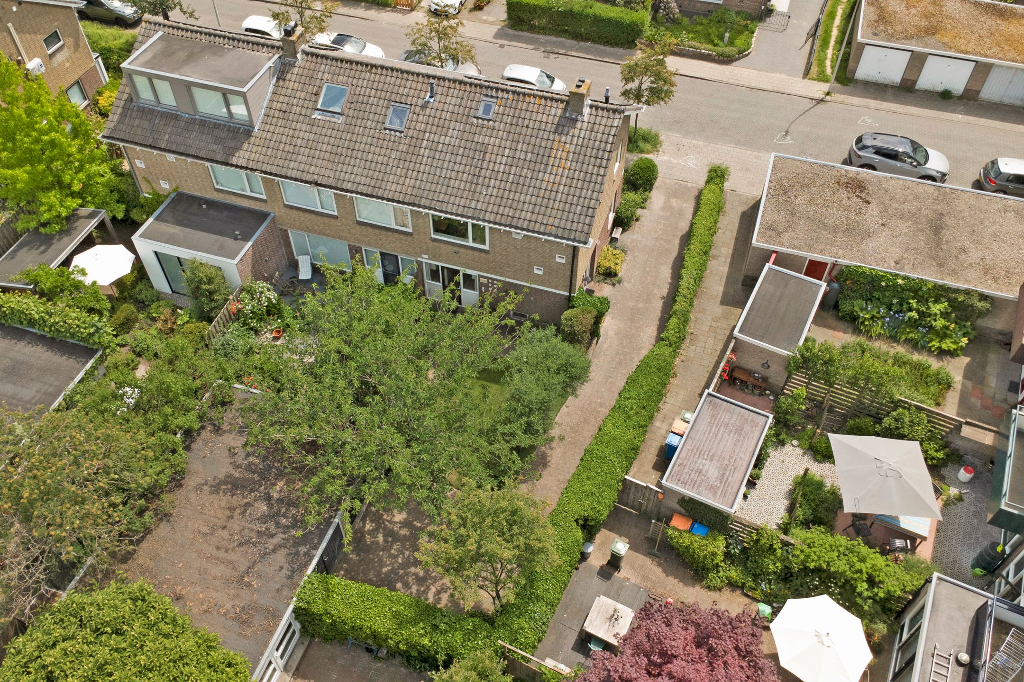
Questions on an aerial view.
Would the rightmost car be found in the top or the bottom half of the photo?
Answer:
top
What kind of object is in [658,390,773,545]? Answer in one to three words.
shed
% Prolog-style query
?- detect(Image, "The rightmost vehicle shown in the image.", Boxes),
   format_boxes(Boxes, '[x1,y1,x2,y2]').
[976,155,1024,201]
